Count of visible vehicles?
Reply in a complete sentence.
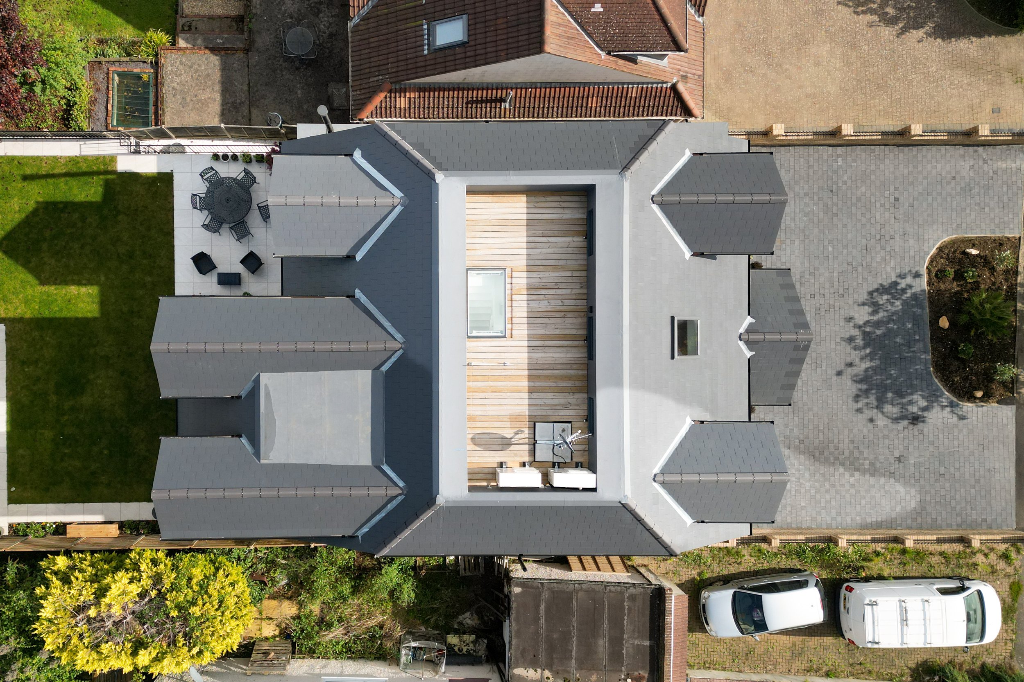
The number of vehicles here is 2.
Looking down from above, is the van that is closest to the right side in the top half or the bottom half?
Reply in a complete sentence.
You can find the van that is closest to the right side in the bottom half.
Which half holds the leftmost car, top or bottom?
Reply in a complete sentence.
It is in the bottom half that the leftmost car appears.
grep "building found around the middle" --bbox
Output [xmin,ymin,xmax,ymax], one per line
[149,102,814,559]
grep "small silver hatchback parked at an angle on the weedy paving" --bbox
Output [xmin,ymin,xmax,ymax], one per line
[696,563,829,646]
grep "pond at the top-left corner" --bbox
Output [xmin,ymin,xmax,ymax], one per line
[107,66,156,129]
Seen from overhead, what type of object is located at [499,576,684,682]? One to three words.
building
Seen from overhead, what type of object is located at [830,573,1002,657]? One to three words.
van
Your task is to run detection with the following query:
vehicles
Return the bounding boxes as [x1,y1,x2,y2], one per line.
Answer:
[696,563,829,646]
[830,573,1002,657]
